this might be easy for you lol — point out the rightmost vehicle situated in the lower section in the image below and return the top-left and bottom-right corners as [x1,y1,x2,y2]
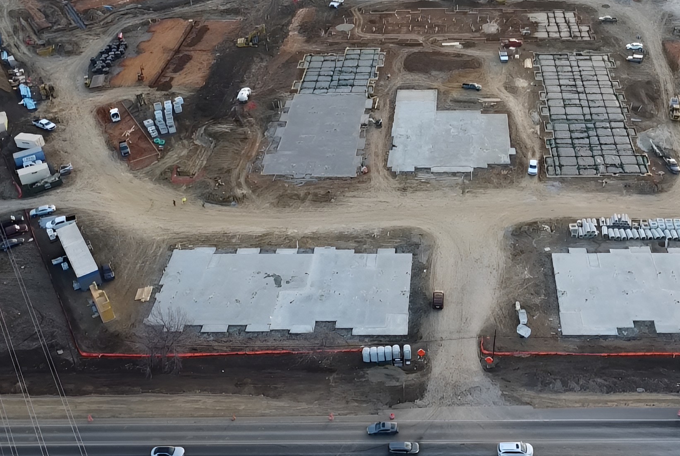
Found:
[497,439,533,456]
